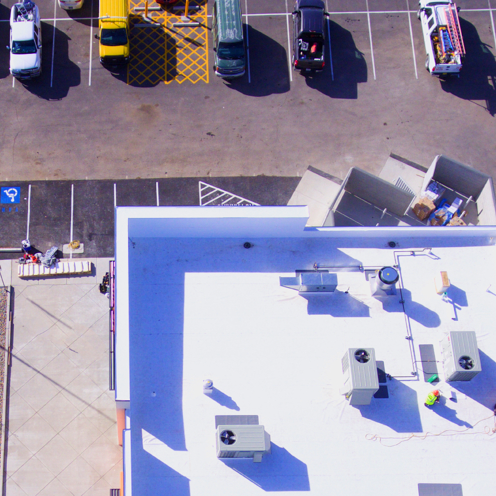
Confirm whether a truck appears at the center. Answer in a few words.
No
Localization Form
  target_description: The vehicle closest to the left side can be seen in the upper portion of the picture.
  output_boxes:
[5,2,43,77]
